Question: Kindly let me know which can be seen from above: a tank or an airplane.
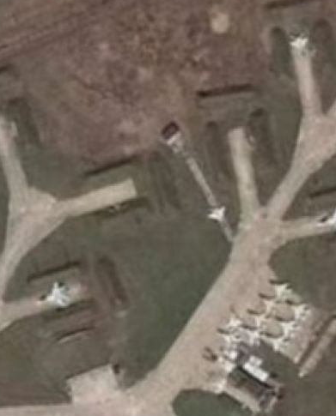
airplane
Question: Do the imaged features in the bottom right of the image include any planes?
Yes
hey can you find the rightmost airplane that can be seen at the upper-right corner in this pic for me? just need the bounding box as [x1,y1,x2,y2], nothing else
[290,31,307,58]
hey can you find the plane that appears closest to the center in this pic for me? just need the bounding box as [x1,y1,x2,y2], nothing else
[207,202,224,227]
